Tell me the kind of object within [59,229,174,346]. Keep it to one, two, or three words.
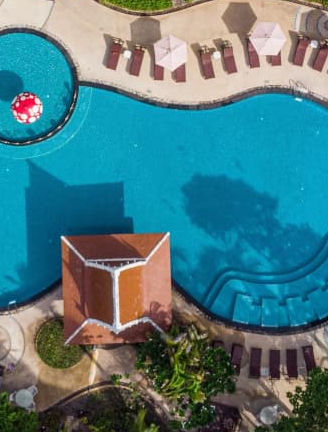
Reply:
building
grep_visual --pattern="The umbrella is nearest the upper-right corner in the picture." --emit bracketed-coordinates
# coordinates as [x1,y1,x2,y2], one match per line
[248,22,284,54]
